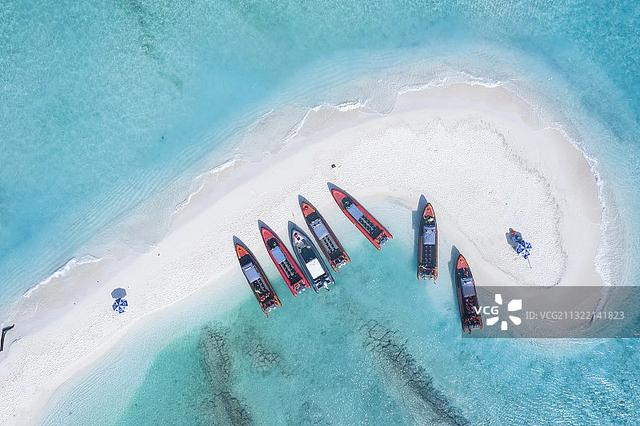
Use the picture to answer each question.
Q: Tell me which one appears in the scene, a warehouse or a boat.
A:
boat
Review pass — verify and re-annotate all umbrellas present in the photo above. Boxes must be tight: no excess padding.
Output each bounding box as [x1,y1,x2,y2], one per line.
[111,296,129,315]
[515,240,534,259]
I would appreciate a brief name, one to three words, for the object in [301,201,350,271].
boat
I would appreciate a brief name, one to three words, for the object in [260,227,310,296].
boat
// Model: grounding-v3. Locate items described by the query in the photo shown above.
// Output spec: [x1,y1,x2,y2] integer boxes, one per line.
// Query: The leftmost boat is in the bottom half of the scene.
[234,245,281,315]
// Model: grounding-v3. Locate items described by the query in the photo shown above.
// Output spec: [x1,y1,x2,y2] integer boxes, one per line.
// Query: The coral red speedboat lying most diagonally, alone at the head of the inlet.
[331,189,391,249]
